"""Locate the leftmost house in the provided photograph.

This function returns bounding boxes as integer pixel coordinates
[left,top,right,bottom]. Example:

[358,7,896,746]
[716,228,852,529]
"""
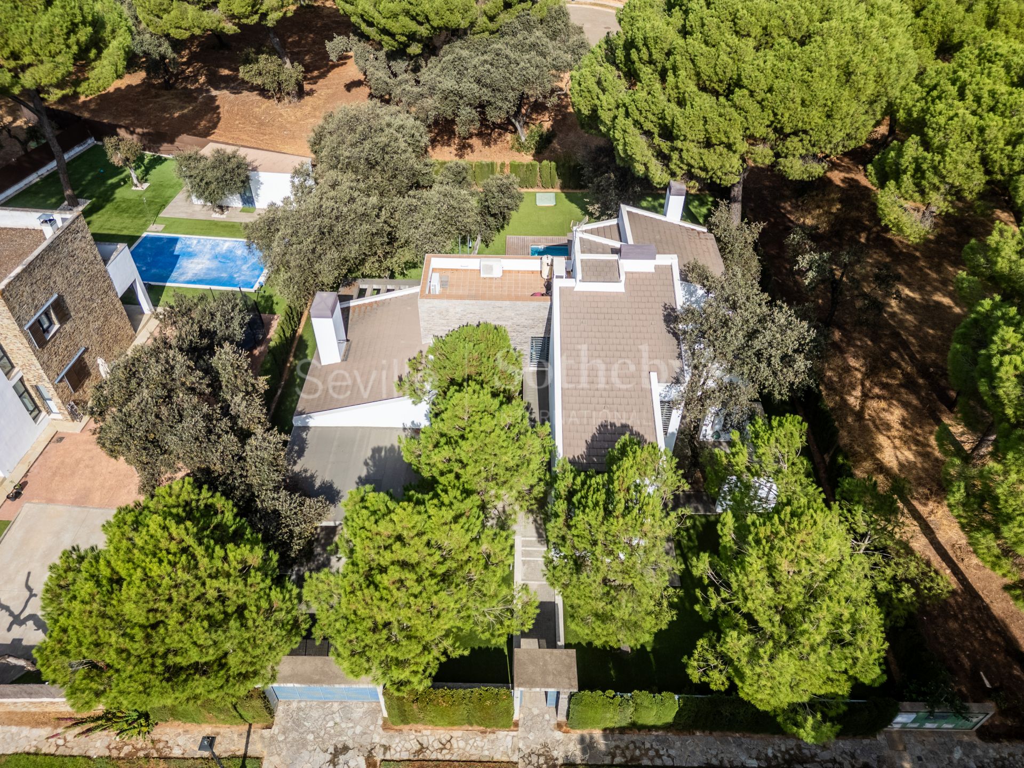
[0,198,162,535]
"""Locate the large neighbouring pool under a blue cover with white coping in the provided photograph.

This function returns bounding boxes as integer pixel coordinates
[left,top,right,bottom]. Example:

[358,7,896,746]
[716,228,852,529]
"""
[138,232,257,291]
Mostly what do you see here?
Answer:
trees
